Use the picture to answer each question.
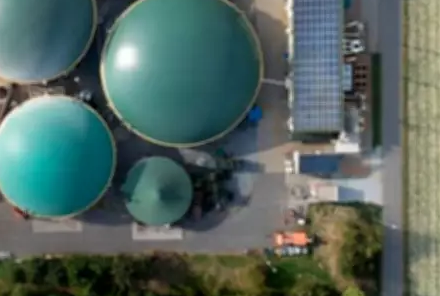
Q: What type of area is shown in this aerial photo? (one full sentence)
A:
This looks like an industrial area.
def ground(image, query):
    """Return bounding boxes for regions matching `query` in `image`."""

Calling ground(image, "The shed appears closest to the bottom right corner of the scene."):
[315,184,338,201]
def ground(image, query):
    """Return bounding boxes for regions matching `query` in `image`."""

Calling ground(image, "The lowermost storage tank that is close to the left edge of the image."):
[0,94,116,220]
